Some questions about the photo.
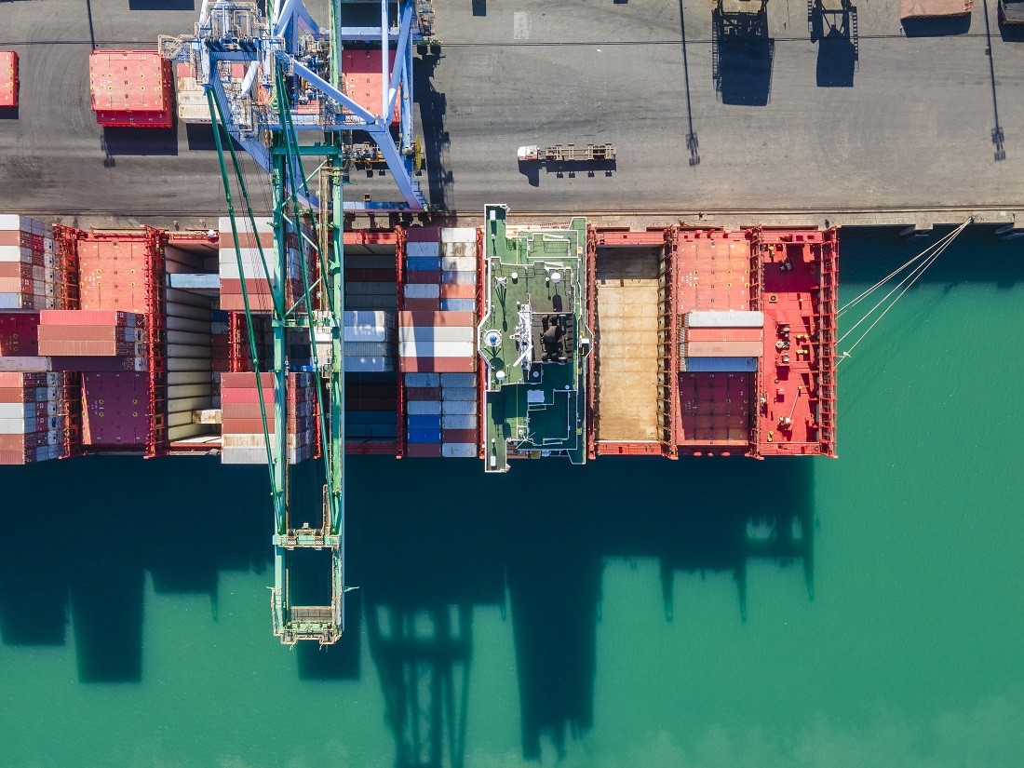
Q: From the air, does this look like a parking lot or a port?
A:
port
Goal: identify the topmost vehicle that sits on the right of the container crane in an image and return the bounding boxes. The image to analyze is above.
[517,141,616,159]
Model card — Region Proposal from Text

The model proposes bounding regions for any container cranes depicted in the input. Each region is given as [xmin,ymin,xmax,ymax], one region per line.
[156,0,448,648]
